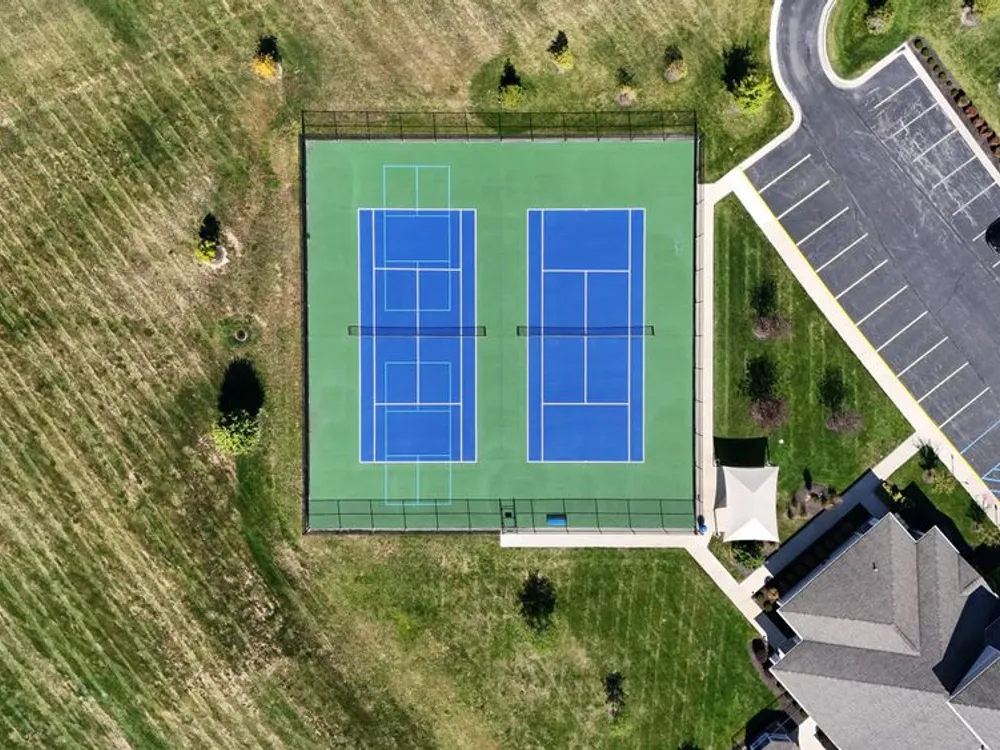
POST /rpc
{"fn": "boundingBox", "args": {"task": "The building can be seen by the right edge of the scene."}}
[765,512,1000,750]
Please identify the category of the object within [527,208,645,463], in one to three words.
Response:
tennis court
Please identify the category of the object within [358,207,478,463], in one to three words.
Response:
tennis court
